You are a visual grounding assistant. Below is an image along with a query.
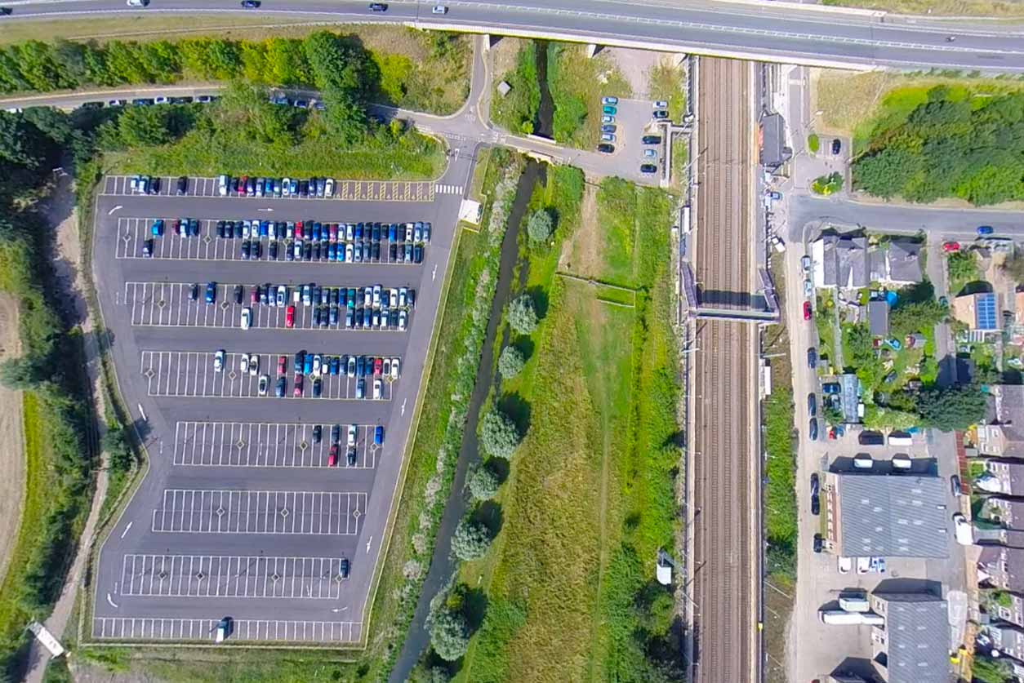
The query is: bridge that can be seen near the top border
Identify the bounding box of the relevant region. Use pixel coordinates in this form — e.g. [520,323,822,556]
[413,0,884,71]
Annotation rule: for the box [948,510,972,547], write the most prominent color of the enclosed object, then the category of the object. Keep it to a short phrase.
white truck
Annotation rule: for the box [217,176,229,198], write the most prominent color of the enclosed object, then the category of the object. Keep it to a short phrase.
white vehicle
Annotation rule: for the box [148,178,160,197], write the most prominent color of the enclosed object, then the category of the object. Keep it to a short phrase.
blue vehicle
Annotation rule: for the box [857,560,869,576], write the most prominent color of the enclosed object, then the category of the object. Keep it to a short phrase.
white vehicle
